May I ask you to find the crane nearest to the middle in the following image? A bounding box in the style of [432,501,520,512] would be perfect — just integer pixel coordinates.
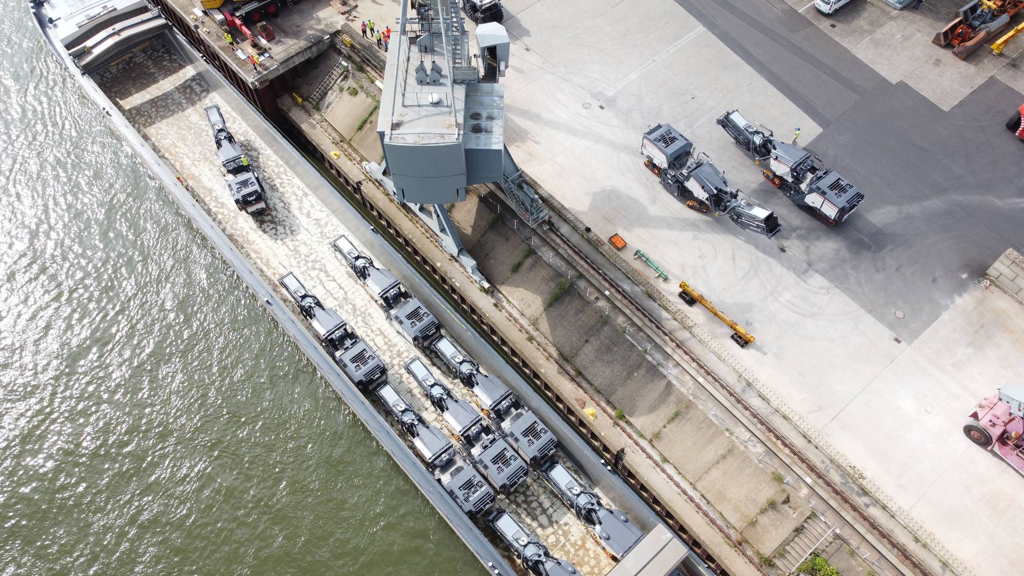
[356,0,564,302]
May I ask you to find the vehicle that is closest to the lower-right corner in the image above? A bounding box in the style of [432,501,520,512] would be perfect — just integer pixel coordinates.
[961,376,1024,473]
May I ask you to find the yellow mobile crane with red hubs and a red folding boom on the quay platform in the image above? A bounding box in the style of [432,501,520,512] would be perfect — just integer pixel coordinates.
[189,0,275,44]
